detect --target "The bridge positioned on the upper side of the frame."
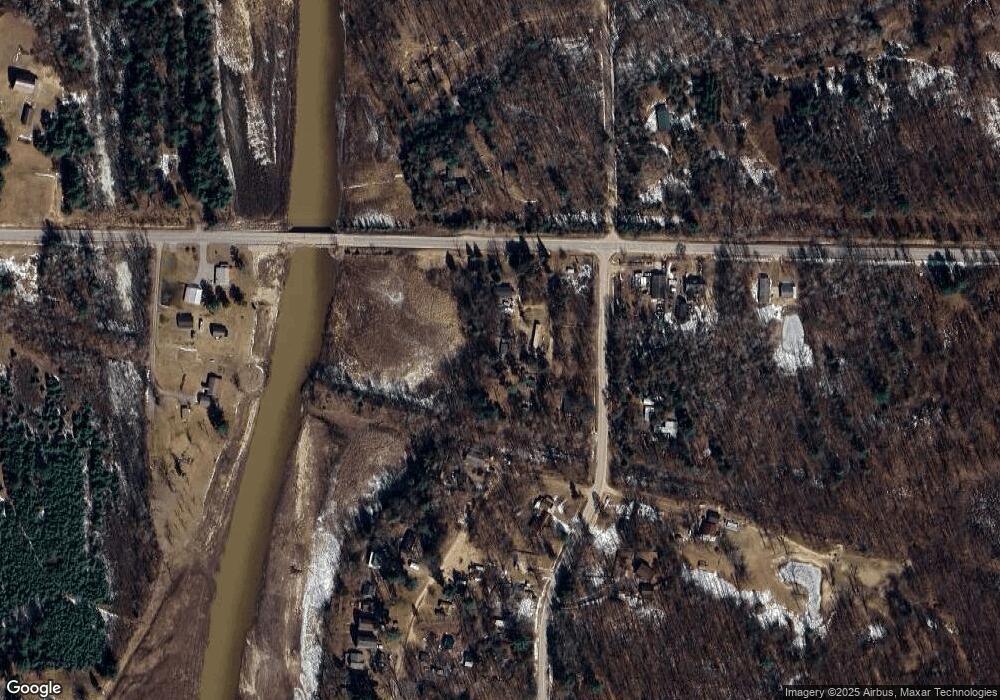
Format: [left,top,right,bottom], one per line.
[285,230,340,248]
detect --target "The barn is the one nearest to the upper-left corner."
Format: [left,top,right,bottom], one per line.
[12,72,36,91]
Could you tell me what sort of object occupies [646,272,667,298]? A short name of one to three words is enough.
house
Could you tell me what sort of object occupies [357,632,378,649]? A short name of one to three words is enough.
house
